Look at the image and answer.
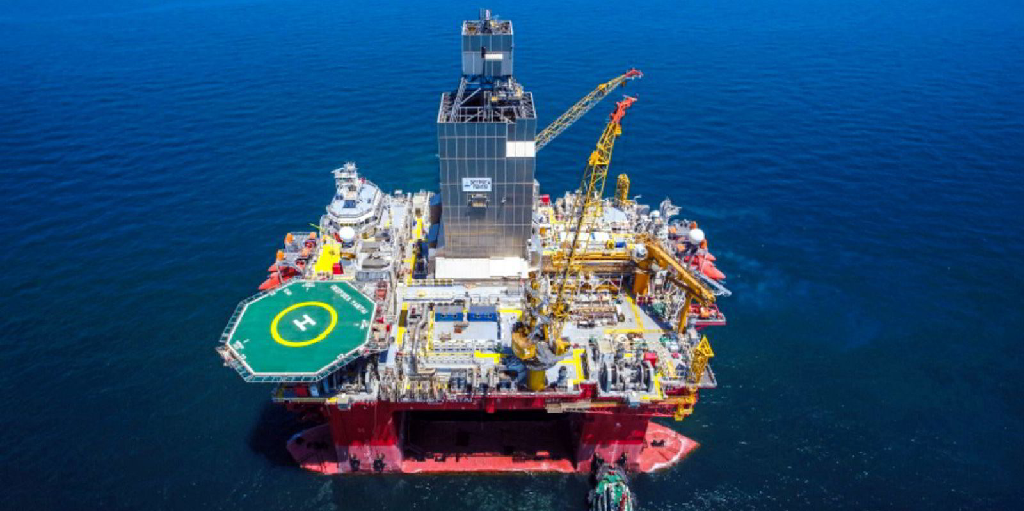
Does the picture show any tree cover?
No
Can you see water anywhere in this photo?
Yes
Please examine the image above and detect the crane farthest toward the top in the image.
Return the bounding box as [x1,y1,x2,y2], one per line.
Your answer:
[534,70,641,161]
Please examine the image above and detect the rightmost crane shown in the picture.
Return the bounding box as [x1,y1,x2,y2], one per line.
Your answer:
[623,230,717,332]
